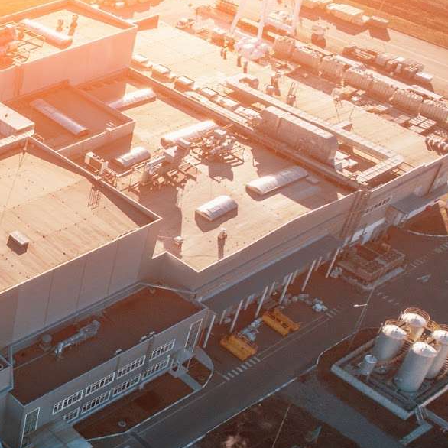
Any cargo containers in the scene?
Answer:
Yes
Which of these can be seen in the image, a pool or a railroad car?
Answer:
railroad car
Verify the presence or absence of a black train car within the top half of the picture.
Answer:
No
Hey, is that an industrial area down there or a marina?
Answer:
industrial area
